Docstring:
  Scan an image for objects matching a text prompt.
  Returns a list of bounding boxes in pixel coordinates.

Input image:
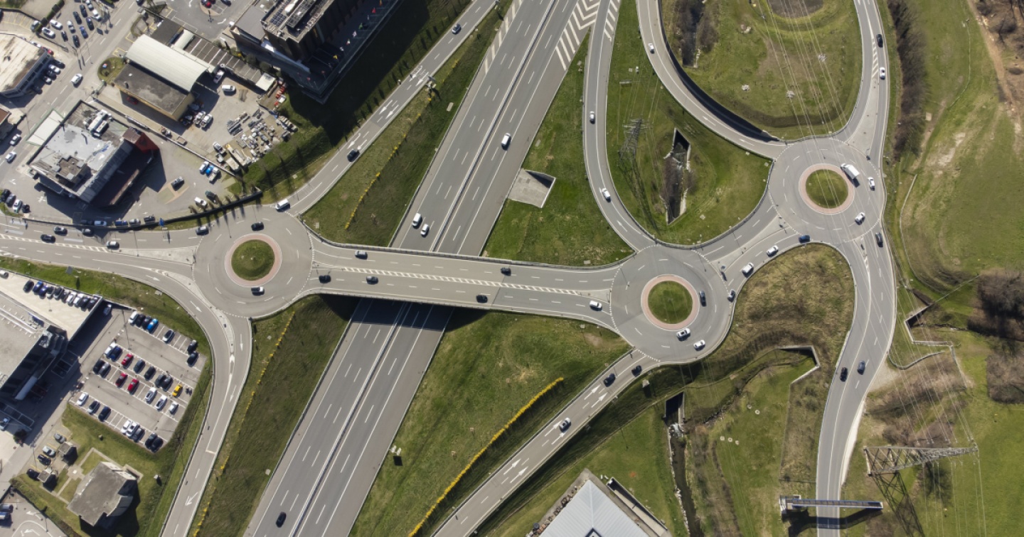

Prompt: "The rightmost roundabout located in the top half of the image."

[766,134,887,246]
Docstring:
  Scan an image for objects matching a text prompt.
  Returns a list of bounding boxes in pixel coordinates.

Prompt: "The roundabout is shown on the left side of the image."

[194,204,314,319]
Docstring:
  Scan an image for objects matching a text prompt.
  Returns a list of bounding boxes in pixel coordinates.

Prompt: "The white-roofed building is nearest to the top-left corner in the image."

[0,32,53,100]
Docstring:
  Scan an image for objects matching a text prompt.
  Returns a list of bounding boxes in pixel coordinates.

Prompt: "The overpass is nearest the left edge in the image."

[247,214,639,335]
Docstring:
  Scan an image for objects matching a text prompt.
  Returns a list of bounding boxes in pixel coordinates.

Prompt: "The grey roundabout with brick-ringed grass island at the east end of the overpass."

[608,243,733,365]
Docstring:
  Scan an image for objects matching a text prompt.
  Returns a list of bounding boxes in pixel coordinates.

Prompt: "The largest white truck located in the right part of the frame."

[840,160,865,183]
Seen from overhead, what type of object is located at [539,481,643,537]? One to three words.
building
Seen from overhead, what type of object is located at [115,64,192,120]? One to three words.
building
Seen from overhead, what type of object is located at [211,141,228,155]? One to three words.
vehicle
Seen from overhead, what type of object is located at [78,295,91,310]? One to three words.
vehicle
